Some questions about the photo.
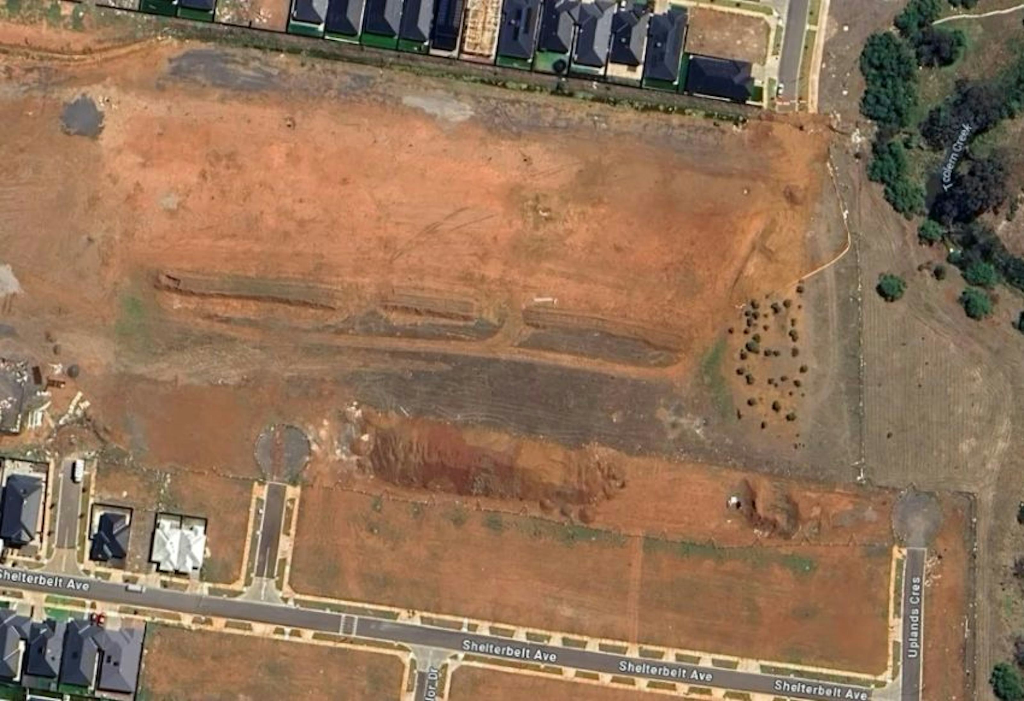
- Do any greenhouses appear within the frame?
No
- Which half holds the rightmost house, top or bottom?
top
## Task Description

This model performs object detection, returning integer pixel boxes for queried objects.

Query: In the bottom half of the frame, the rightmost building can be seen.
[152,517,209,578]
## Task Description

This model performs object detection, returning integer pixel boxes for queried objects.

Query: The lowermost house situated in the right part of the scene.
[688,59,757,100]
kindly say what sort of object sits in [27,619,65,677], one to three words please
house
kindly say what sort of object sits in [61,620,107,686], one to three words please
house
